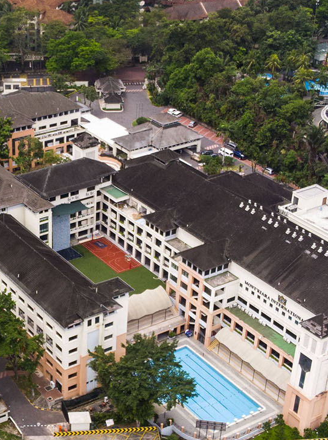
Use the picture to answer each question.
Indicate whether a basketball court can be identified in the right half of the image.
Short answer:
No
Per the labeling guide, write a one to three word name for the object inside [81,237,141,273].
basketball court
